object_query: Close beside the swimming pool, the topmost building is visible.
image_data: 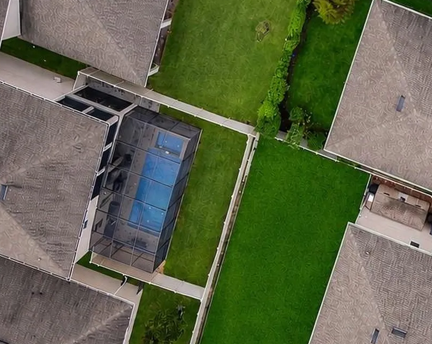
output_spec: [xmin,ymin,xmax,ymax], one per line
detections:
[18,0,177,86]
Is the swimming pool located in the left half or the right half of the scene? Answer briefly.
left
